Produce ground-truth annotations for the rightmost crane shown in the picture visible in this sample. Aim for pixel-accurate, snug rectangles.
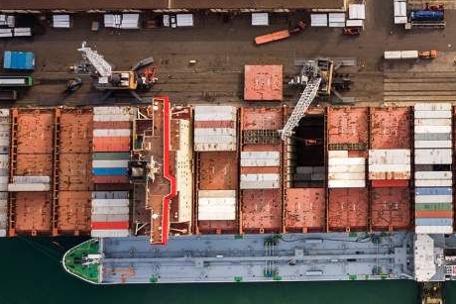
[282,60,359,140]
